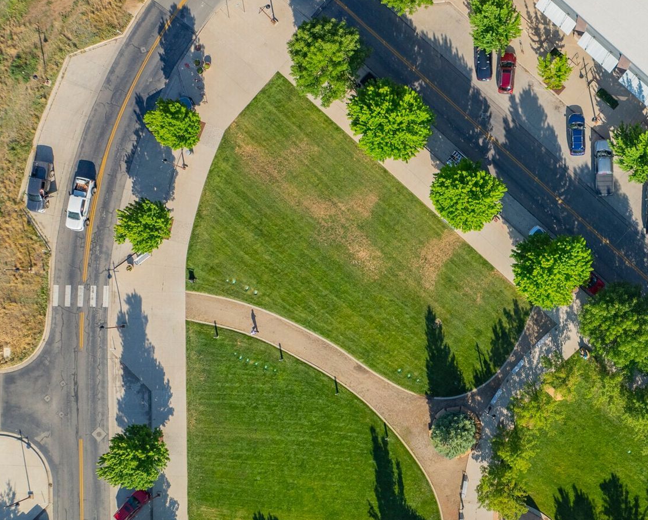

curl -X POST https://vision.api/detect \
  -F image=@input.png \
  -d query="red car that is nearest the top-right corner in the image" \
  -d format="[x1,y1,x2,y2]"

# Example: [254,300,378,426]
[495,49,517,93]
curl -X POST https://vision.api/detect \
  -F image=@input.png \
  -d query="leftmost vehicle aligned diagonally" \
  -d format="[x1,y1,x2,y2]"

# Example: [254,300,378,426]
[104,490,150,520]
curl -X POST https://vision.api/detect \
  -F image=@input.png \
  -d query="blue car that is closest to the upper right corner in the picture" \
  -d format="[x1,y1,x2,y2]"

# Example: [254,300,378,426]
[567,111,589,155]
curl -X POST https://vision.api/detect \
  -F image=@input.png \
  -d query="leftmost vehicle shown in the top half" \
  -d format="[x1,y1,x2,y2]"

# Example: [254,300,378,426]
[23,159,54,210]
